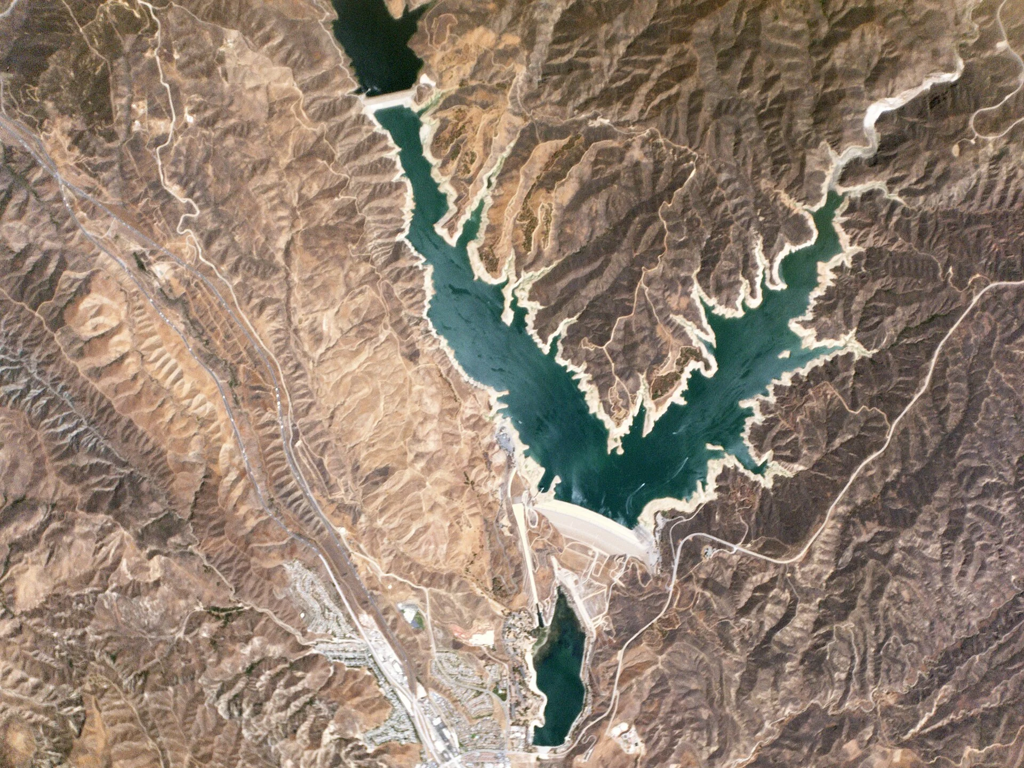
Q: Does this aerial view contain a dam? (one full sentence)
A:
Yes, you can see a dam in this photo.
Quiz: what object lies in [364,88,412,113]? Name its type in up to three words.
dam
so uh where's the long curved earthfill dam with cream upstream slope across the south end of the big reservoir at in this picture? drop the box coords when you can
[533,500,662,577]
